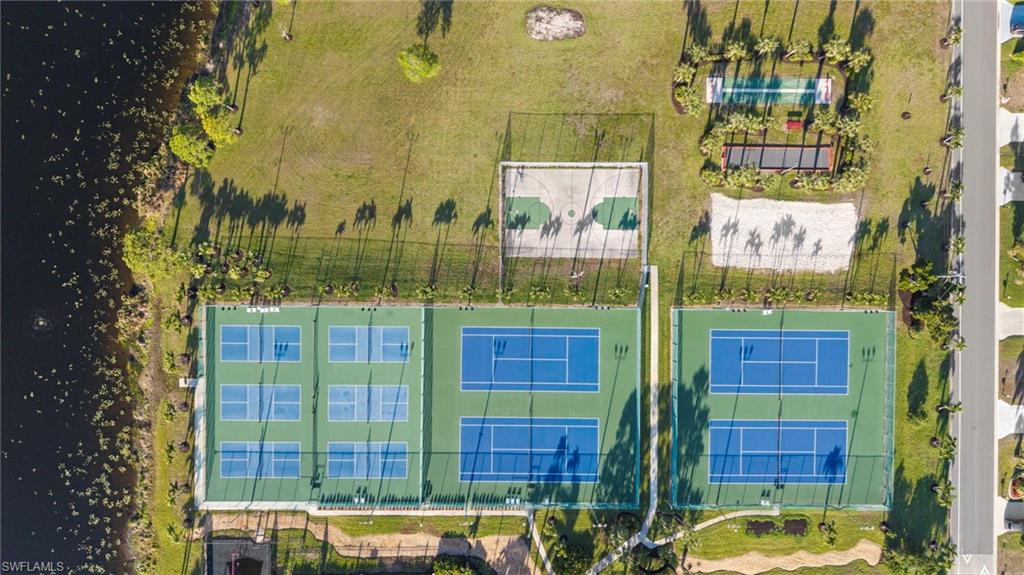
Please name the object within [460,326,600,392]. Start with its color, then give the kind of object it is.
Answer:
blue tennis court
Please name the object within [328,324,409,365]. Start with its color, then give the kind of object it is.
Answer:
blue sports court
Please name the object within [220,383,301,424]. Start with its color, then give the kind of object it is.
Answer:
blue sports court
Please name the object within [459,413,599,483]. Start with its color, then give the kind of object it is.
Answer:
blue tennis court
